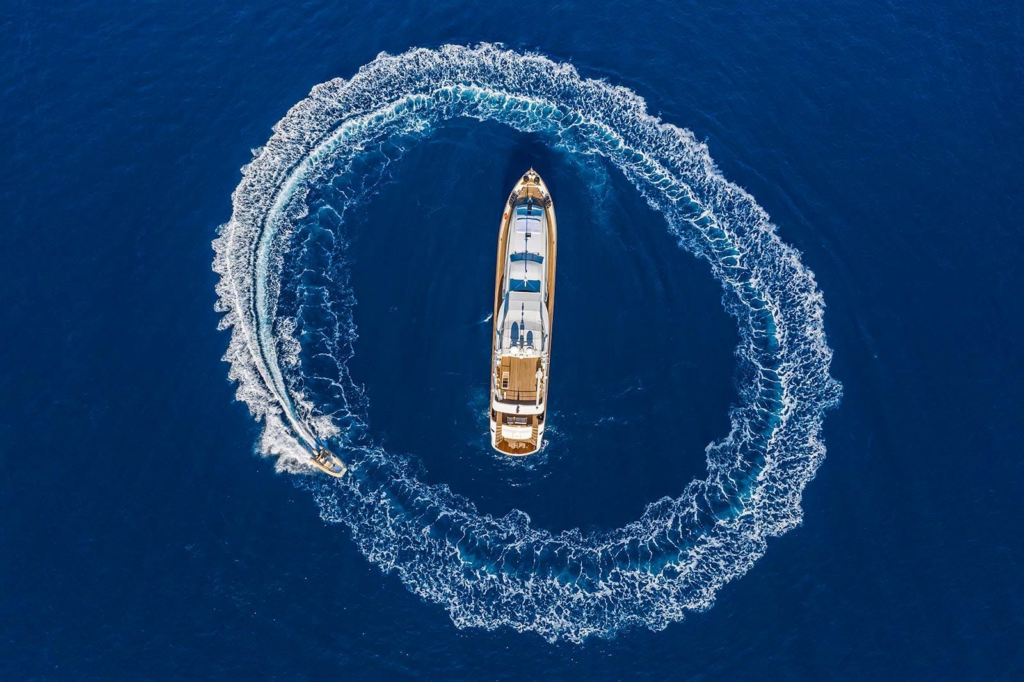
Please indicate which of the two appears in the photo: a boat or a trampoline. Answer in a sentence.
There is a boat in the scene.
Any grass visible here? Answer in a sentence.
No, there's no grass in this view.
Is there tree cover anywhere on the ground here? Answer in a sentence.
No, no tree cover is visible.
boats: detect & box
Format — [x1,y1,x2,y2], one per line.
[490,166,558,456]
[311,444,347,475]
